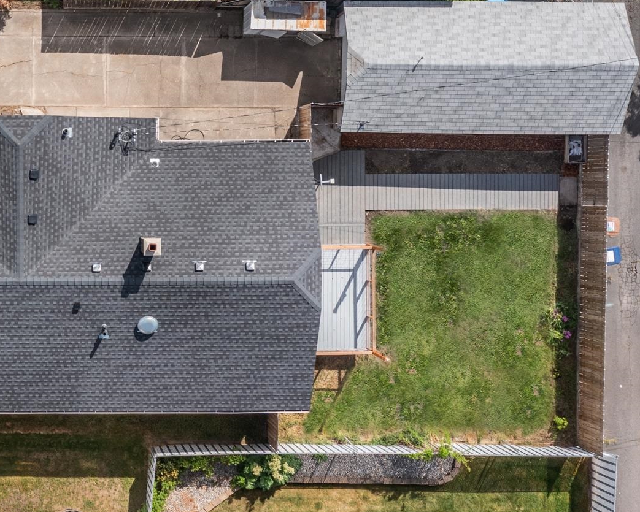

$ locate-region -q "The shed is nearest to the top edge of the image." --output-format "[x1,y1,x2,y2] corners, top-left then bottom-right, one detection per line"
[242,0,327,50]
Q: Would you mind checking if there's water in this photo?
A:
No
